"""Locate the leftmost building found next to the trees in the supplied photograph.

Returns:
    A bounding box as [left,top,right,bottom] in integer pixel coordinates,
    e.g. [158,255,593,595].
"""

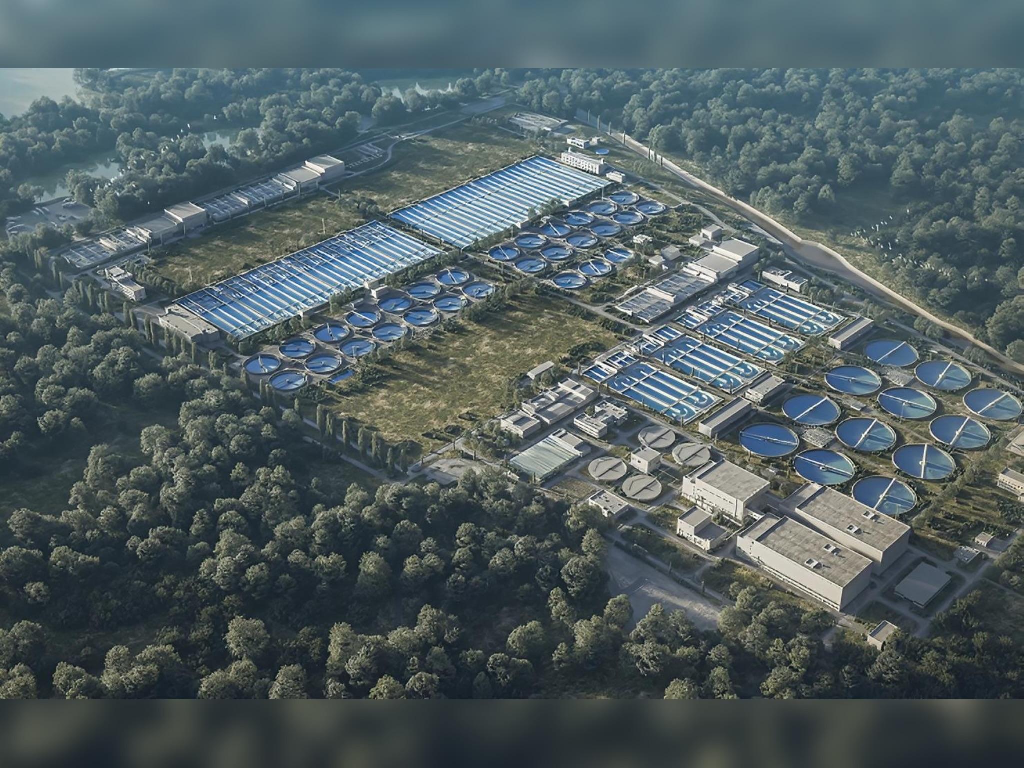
[103,268,146,302]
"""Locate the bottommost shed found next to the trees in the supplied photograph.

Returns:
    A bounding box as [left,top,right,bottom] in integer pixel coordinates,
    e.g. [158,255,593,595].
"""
[872,620,898,650]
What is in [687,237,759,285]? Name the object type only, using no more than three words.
house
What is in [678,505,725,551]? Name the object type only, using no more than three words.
building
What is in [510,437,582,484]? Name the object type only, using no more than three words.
greenhouse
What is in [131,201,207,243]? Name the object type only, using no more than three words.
house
